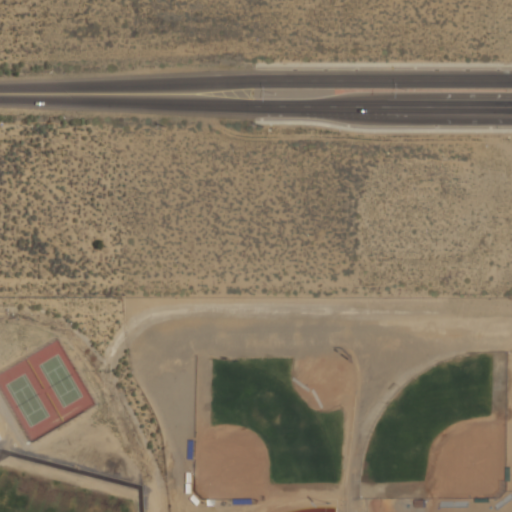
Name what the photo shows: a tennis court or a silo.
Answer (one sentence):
Looking from above, you can make out a tennis court.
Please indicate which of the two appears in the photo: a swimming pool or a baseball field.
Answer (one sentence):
It is a baseball field that can be seen here.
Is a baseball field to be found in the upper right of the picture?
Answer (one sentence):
No, there's no baseball field to be seen in the upper right of the picture.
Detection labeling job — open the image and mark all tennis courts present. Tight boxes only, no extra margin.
[0,358,63,440]
[26,340,94,422]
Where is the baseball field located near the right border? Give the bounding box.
[360,352,508,500]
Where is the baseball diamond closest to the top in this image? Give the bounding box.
[292,350,354,412]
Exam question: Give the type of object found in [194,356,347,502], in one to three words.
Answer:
baseball field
